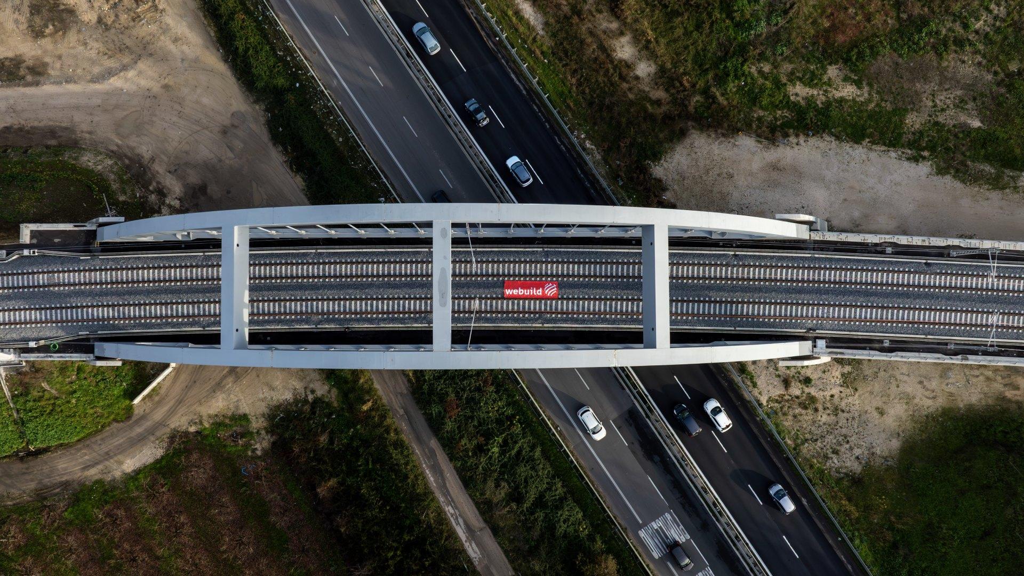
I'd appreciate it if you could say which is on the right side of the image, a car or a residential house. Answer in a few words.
car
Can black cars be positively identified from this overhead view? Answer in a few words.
Yes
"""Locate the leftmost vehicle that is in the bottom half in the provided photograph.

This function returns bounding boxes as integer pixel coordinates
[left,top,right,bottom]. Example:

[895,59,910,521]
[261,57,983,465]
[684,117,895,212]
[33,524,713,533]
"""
[576,404,606,440]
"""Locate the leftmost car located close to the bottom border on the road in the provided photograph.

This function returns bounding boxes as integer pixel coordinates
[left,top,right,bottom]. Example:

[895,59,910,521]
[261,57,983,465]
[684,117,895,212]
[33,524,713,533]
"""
[666,539,692,571]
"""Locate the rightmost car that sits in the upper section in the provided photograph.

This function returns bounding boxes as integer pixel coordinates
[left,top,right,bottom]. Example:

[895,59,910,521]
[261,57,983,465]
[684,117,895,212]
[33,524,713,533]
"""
[506,156,533,188]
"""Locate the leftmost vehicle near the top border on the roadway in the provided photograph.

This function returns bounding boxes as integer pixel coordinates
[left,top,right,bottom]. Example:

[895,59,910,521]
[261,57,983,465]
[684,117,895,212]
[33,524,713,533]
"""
[413,23,441,56]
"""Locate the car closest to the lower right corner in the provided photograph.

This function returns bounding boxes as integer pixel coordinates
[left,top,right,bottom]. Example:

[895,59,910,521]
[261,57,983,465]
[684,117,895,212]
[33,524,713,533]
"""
[767,481,797,516]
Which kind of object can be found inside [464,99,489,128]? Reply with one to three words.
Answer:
car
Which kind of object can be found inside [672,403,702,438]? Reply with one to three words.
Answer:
car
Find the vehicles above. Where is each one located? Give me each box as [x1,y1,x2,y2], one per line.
[702,397,732,433]
[413,23,441,56]
[464,99,489,128]
[672,403,702,438]
[576,404,606,440]
[506,156,533,188]
[430,187,453,204]
[666,539,692,571]
[767,481,797,516]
